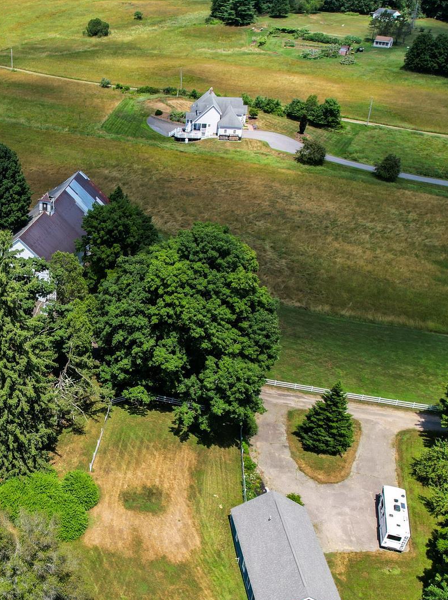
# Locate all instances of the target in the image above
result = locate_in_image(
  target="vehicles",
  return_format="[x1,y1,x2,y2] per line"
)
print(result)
[355,47,363,53]
[372,488,407,557]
